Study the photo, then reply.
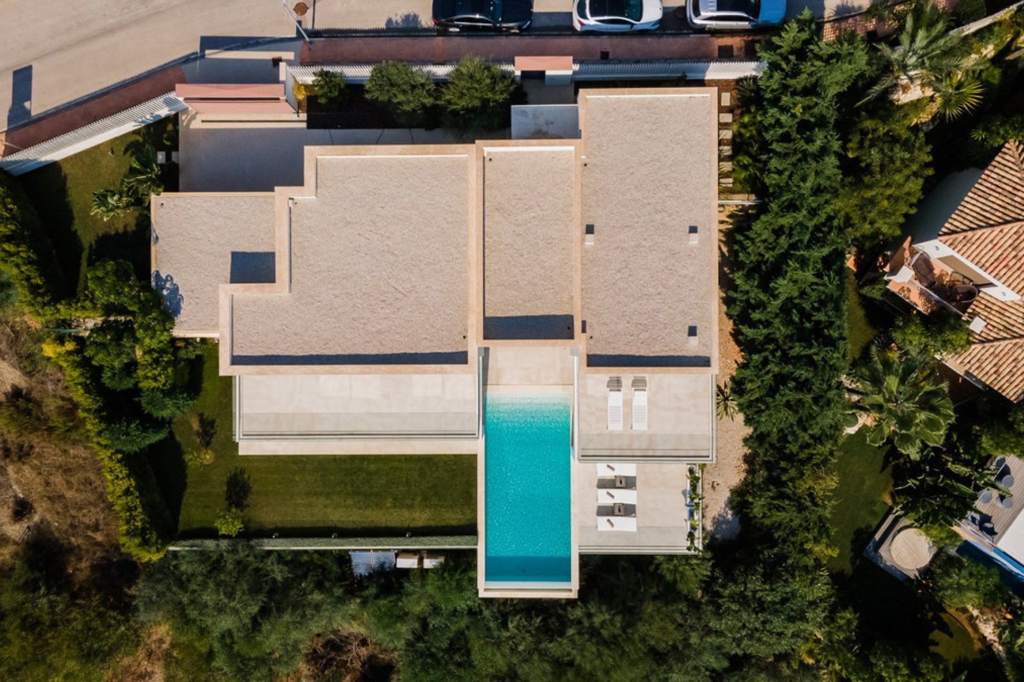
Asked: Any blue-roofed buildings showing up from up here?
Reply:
No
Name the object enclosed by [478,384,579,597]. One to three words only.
swimming pool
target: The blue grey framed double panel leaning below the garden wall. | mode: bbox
[348,549,399,574]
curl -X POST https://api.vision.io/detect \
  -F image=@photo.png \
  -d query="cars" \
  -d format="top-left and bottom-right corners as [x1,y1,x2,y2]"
[684,0,786,32]
[433,0,532,32]
[572,0,661,32]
